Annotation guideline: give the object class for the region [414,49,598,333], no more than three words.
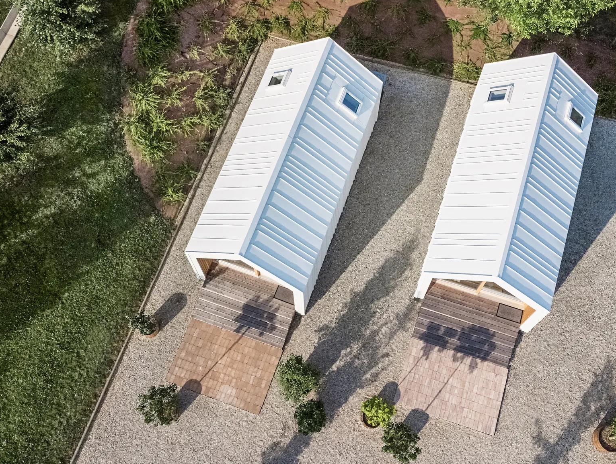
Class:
building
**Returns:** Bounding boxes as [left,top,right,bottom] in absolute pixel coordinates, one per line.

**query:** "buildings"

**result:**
[184,36,382,317]
[414,49,598,333]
